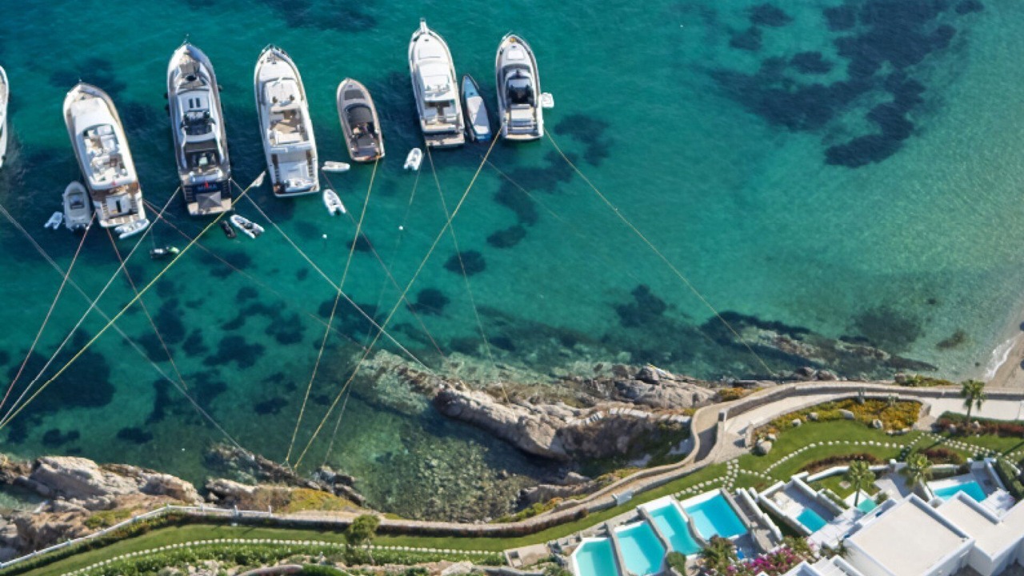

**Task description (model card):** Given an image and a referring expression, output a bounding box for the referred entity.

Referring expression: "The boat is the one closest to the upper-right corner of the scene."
[541,91,553,108]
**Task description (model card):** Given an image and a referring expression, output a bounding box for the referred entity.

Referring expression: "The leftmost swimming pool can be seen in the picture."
[571,536,620,576]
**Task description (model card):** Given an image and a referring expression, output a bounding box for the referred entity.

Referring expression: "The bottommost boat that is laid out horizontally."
[151,246,179,258]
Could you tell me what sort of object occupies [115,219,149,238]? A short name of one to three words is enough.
boat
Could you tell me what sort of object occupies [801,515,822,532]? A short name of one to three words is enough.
swimming pool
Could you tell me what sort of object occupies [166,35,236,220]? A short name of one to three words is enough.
boat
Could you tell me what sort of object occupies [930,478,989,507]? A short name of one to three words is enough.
swimming pool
